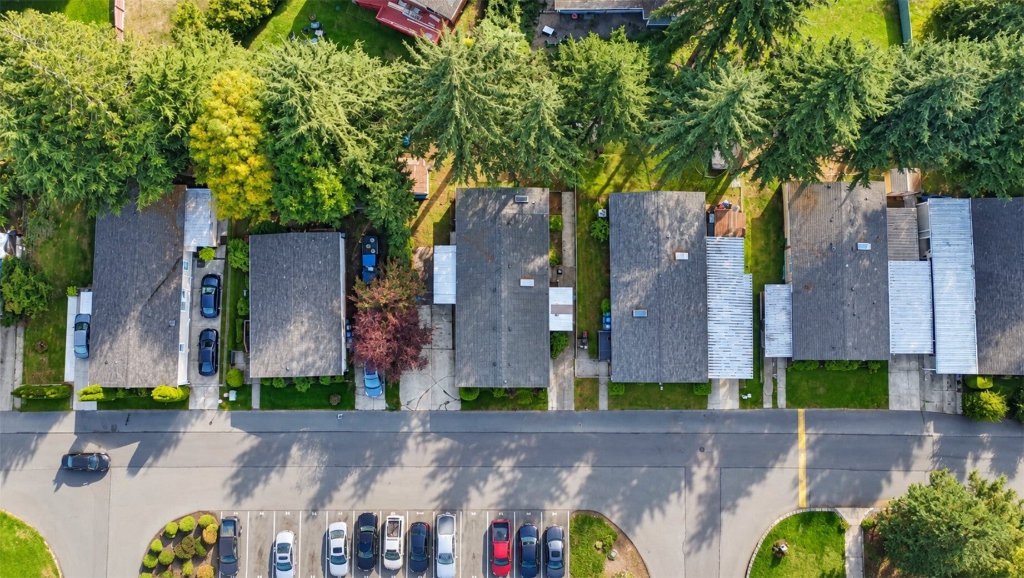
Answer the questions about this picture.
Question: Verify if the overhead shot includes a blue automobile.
Yes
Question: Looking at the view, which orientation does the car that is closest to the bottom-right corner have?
from top to bottom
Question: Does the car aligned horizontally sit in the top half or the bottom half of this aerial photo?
bottom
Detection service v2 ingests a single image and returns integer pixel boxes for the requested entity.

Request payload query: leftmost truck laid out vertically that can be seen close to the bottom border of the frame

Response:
[216,515,243,574]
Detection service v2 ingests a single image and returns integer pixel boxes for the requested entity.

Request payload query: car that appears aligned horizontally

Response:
[62,451,114,473]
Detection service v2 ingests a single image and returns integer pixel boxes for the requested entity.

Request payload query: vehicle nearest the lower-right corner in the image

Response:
[543,525,566,576]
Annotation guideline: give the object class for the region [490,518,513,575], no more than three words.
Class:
truck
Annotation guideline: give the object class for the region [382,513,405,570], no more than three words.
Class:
truck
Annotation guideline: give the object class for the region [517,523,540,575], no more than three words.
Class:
car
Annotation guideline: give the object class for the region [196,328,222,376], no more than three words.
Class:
car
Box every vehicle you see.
[69,312,90,358]
[358,232,381,286]
[517,523,540,575]
[196,328,222,376]
[382,513,405,570]
[62,451,114,473]
[325,522,349,573]
[362,361,384,401]
[216,515,243,574]
[490,518,513,575]
[433,513,457,578]
[272,529,296,578]
[198,274,224,318]
[355,513,379,567]
[543,525,566,576]
[407,522,430,572]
